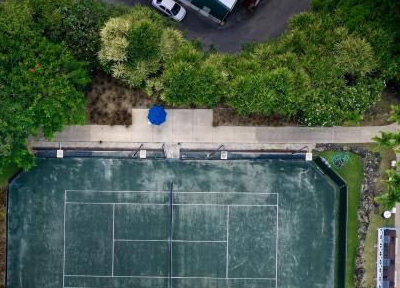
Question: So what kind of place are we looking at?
sports ground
